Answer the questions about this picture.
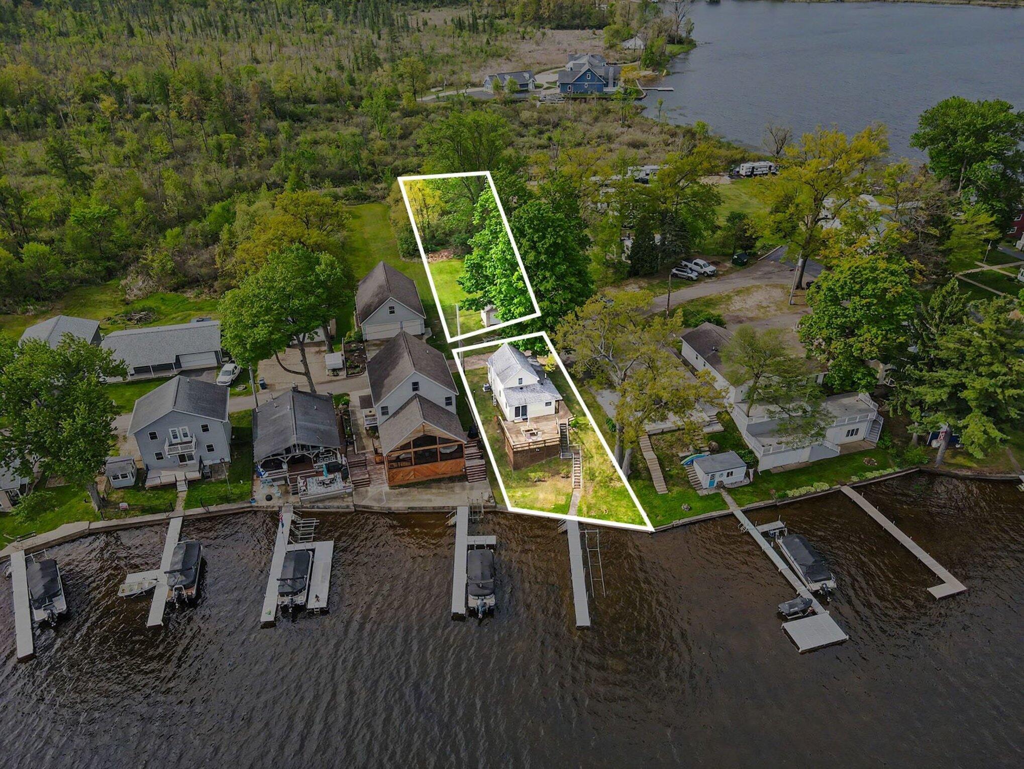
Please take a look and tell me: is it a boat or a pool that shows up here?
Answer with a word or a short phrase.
boat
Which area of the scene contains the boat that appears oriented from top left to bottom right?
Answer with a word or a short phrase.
bottom right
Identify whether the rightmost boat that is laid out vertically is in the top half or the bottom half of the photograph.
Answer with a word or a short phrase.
bottom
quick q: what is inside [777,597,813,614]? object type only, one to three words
boat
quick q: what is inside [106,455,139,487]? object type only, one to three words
shed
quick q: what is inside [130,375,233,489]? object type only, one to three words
house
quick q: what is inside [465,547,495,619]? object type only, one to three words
boat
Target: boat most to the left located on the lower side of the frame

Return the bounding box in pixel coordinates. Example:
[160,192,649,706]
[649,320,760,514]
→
[27,551,67,628]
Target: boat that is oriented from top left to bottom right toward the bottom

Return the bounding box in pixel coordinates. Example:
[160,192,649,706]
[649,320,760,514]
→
[779,535,836,601]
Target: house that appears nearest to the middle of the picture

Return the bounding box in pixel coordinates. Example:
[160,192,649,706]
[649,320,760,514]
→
[487,342,563,420]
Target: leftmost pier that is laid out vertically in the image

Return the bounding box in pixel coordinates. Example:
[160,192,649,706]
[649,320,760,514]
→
[9,550,36,661]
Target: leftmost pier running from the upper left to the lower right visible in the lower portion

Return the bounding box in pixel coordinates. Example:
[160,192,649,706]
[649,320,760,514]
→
[732,511,850,656]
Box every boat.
[166,541,205,609]
[465,547,495,619]
[118,577,156,595]
[277,549,313,616]
[777,597,813,614]
[779,535,836,601]
[27,551,67,628]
